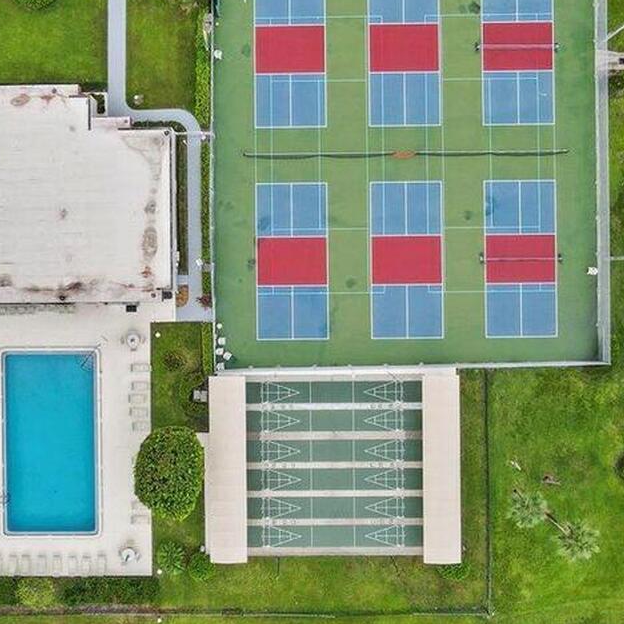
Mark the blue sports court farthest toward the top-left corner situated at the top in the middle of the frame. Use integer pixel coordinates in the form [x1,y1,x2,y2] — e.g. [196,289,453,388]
[254,0,327,129]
